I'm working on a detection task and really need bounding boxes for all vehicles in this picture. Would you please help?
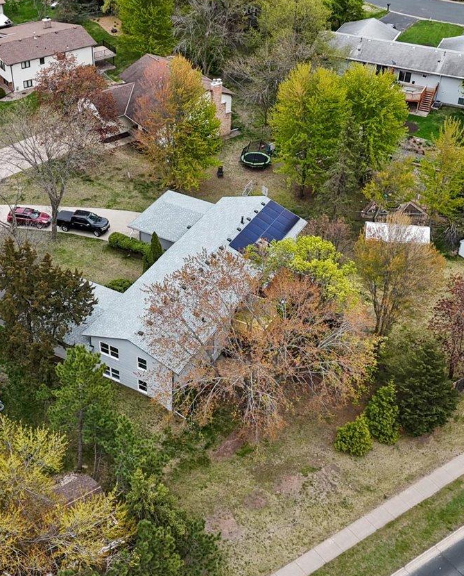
[7,203,50,227]
[57,207,113,235]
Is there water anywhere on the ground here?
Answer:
No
